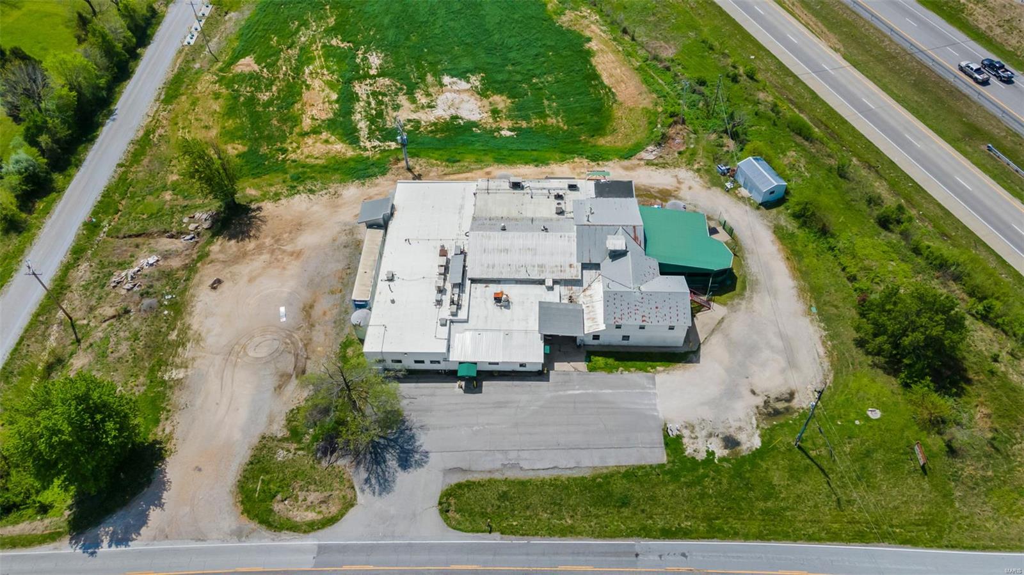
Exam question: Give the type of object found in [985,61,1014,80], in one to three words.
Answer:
vehicle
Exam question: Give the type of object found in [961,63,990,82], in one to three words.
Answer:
vehicle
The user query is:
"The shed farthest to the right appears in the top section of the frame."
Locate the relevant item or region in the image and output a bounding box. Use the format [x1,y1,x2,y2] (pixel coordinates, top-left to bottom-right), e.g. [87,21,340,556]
[742,158,791,203]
